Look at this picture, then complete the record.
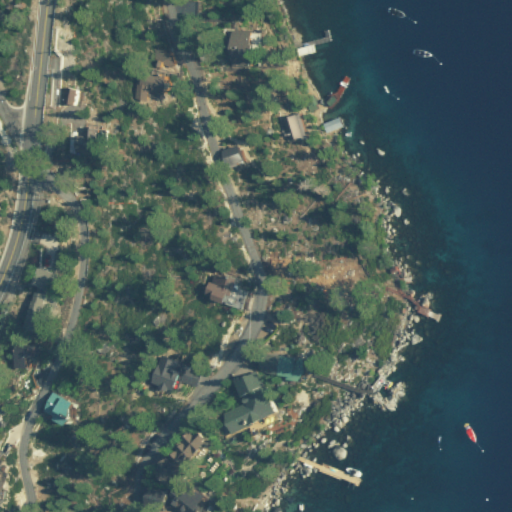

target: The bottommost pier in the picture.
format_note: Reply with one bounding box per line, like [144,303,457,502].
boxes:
[298,456,362,488]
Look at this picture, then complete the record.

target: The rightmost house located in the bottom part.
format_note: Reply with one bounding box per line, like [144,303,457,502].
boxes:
[276,355,302,381]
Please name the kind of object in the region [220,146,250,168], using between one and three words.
house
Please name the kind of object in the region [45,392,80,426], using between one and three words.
house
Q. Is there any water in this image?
Yes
